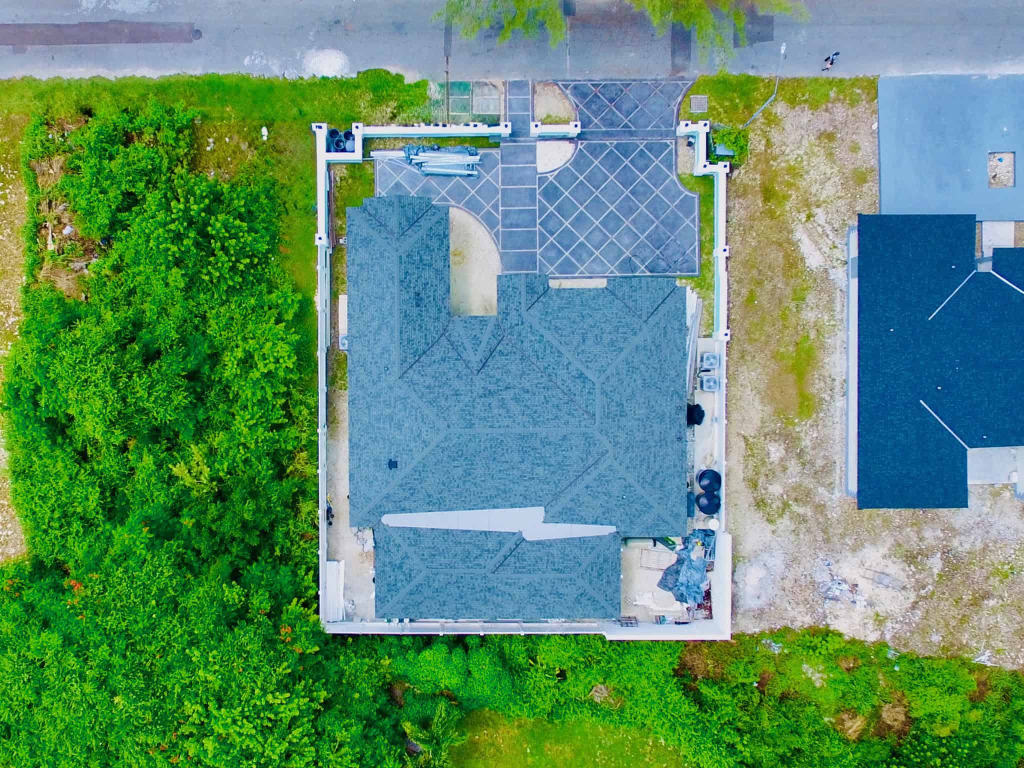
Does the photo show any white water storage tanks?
No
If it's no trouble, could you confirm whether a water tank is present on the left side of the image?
No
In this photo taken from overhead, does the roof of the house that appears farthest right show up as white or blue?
blue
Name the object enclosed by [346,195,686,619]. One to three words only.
house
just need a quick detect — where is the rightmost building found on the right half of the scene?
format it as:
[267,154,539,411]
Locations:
[847,215,1024,508]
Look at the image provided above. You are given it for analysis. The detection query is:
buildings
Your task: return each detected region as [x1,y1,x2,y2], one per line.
[847,215,1024,508]
[346,195,686,619]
